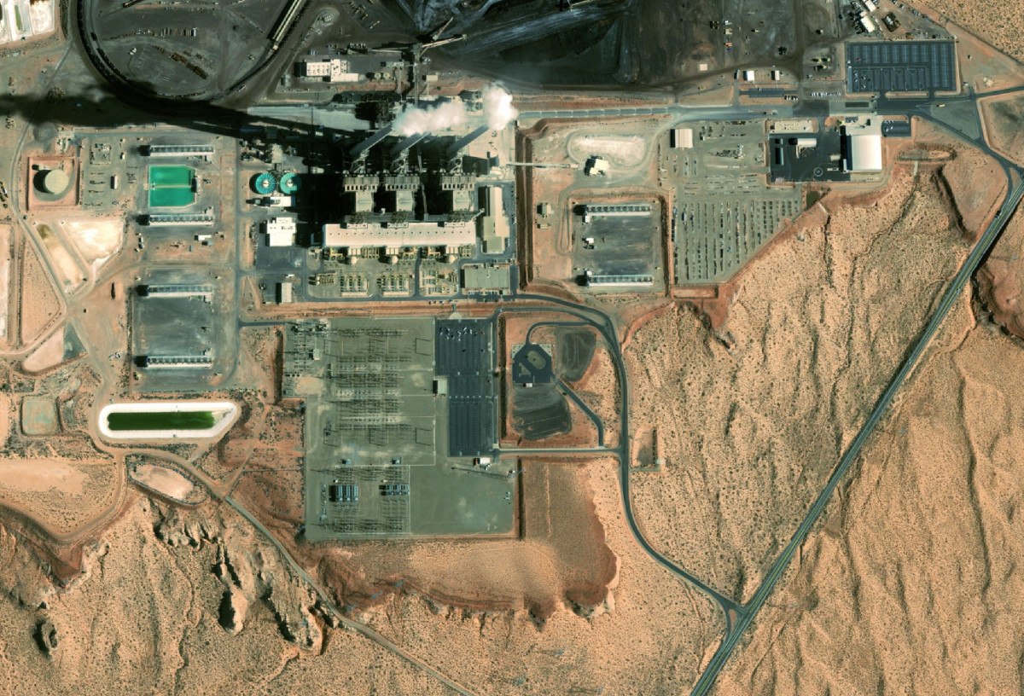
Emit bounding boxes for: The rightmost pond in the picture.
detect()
[100,402,236,439]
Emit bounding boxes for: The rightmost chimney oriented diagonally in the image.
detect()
[441,123,491,158]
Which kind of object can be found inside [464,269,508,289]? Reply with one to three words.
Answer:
building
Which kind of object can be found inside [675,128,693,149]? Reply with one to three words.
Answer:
shed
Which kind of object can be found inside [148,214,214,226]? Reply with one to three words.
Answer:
cooling tower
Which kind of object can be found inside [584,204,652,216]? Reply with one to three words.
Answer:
cooling tower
